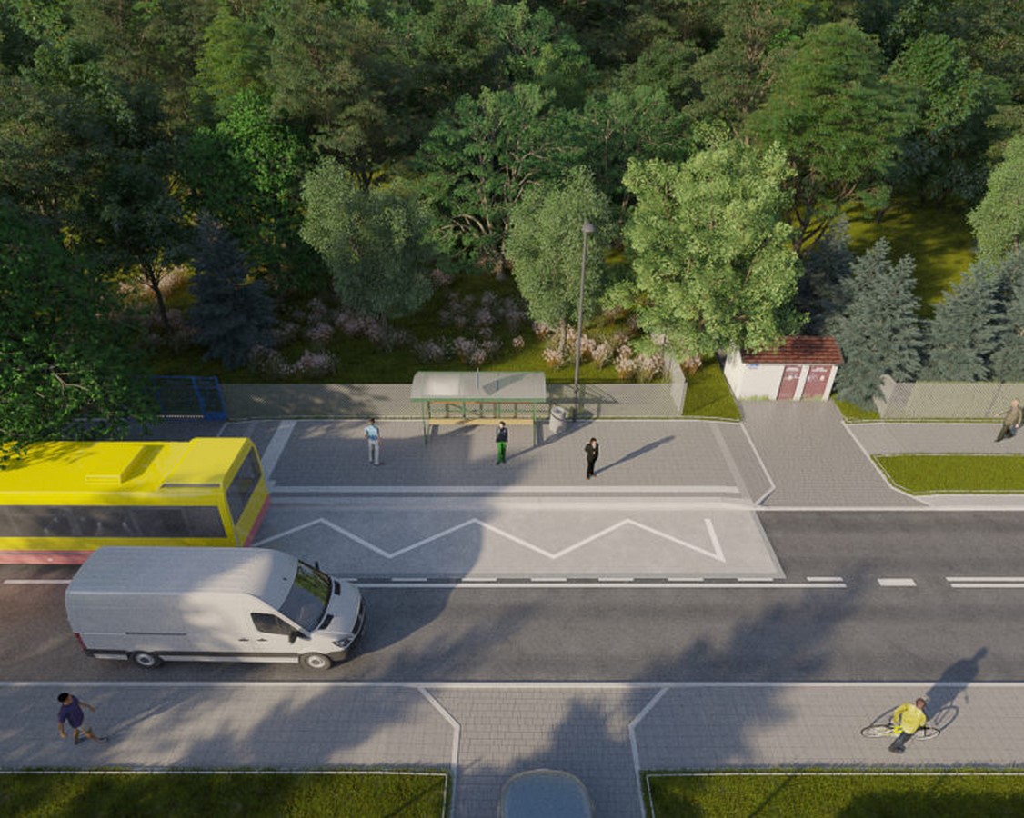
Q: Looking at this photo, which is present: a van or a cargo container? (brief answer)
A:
van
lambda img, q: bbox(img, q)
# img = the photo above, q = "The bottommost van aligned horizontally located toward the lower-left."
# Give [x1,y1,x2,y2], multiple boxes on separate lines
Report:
[69,546,370,671]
